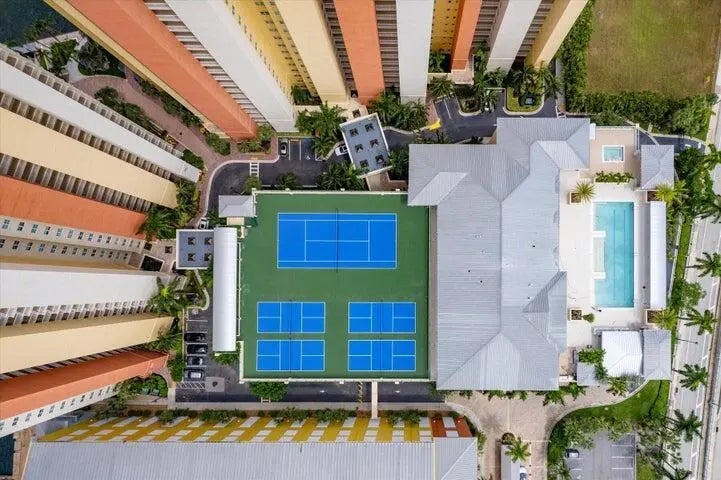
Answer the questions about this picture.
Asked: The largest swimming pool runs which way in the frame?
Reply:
vertically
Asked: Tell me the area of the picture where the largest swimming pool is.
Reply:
right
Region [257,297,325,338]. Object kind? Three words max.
sports court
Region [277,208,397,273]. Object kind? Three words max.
tennis court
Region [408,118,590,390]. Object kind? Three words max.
building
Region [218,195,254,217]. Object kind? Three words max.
building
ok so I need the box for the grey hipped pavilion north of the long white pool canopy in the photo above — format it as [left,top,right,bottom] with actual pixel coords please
[637,145,675,191]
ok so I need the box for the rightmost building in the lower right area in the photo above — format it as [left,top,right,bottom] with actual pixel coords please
[641,329,672,381]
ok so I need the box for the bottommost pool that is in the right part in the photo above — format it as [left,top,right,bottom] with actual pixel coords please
[592,200,636,309]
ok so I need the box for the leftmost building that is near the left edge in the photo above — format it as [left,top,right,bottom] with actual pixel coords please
[0,45,200,439]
